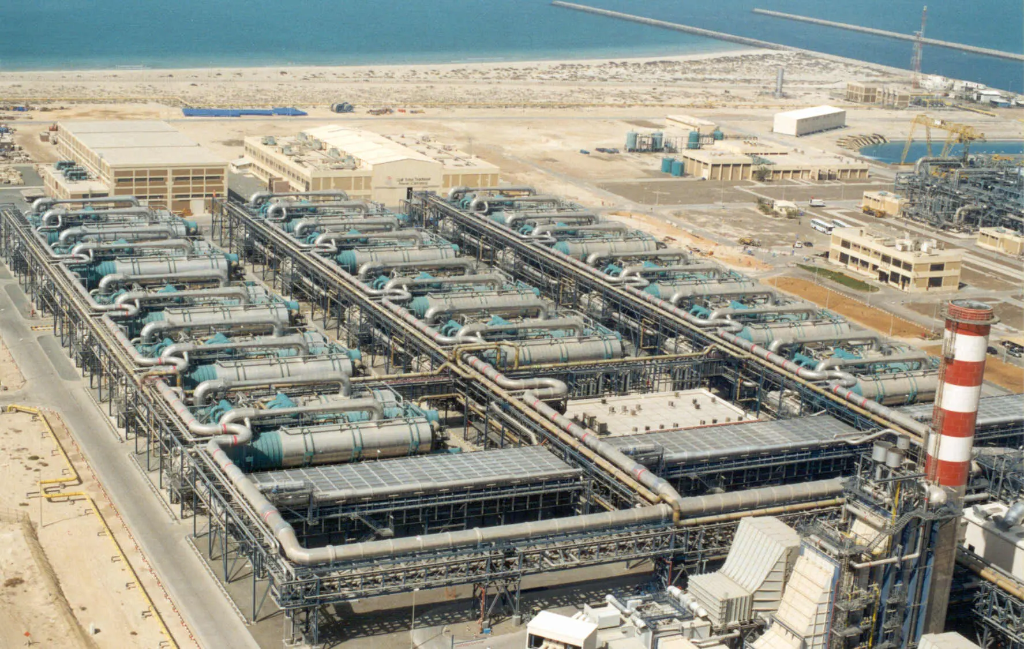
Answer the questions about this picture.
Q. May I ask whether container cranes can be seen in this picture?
Yes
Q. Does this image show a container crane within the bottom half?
No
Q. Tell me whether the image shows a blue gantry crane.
No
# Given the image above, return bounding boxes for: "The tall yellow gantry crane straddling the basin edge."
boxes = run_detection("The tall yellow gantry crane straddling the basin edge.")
[901,111,988,163]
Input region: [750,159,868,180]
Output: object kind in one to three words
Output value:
building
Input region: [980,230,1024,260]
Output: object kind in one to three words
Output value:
building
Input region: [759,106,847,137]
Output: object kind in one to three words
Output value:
shed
